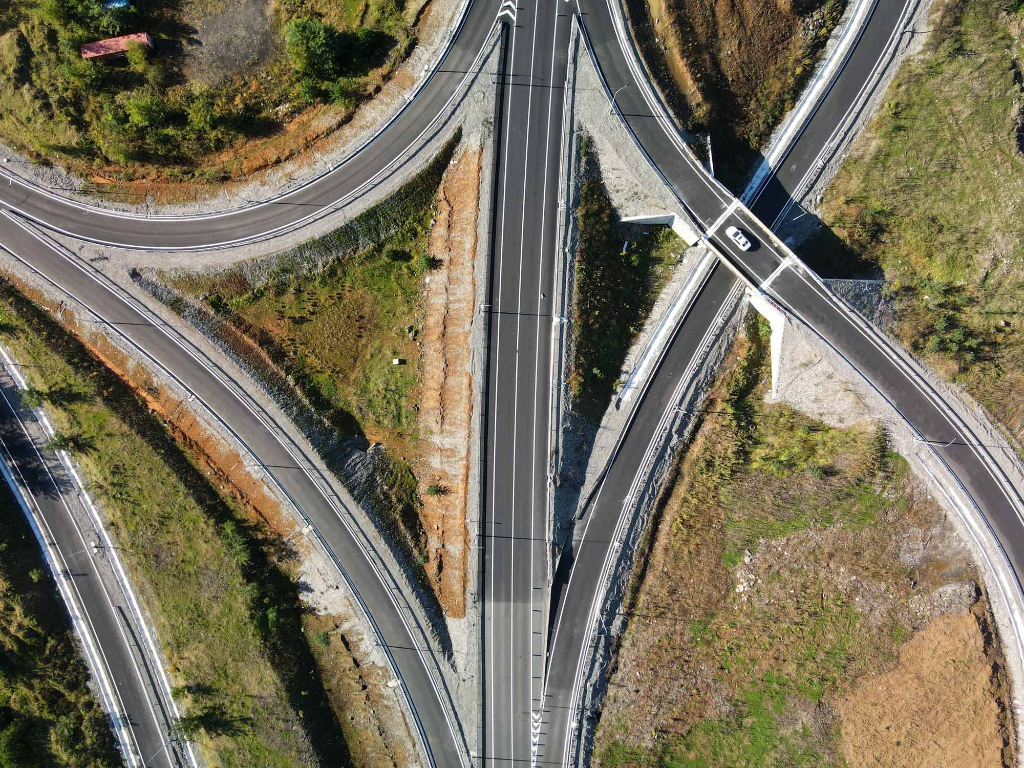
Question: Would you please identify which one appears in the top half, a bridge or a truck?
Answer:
bridge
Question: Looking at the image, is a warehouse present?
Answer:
No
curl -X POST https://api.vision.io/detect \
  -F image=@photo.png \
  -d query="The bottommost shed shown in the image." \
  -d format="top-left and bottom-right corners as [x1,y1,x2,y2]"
[81,33,155,64]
